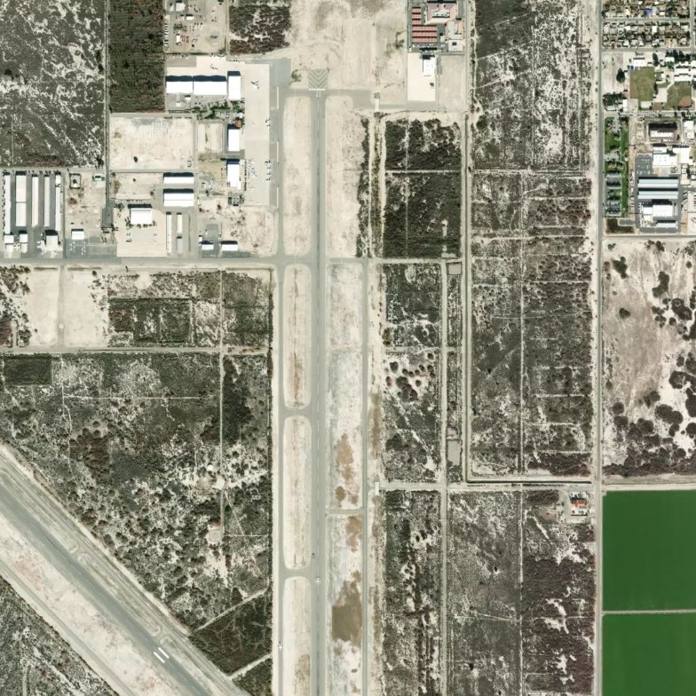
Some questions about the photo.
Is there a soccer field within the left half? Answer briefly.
No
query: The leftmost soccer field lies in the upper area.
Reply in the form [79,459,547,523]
[631,67,655,101]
